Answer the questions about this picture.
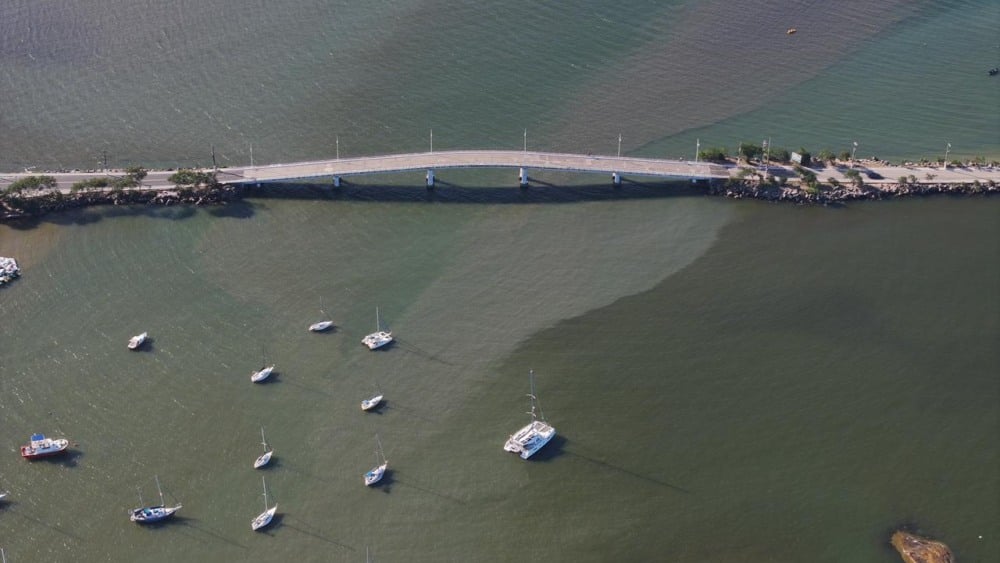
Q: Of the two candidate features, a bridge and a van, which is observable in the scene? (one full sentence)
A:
The one in the frame is a bridge.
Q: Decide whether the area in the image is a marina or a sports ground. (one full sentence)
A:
The picture captures a marina.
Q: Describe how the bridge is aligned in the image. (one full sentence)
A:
I'd say the bridge is aligned from side to side in the picture.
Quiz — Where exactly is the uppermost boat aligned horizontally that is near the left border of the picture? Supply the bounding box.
[21,435,74,460]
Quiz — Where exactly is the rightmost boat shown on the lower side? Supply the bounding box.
[504,370,555,461]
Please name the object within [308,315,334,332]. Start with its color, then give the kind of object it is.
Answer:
white boat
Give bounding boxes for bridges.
[240,150,713,191]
